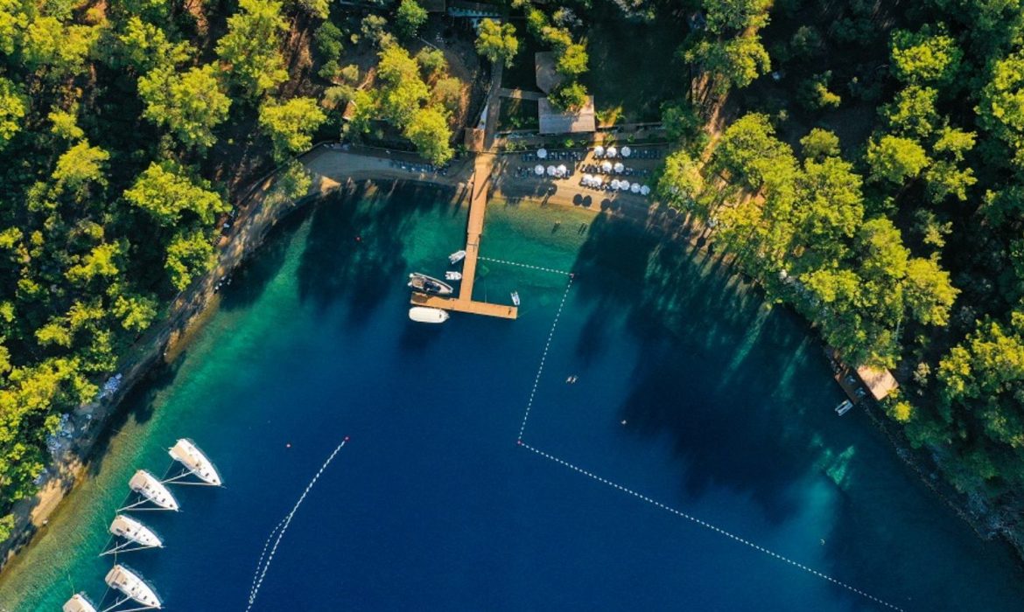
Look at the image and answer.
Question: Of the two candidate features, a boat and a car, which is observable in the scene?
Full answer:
It is a boat that can be seen here.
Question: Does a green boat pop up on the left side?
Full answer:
No, looking on the left side, there is no green boat.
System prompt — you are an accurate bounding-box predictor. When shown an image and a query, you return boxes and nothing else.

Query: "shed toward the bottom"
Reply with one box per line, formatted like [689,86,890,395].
[850,354,899,400]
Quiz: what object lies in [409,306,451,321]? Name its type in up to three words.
boat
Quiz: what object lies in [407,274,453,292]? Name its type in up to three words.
boat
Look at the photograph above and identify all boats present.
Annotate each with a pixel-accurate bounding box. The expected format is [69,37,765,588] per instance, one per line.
[448,250,465,264]
[510,290,519,304]
[444,271,462,280]
[409,306,451,321]
[93,515,168,555]
[112,457,185,516]
[59,594,98,612]
[99,566,159,612]
[407,274,453,292]
[156,429,219,487]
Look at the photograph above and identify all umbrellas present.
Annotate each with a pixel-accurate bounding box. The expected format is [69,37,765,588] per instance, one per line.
[592,176,602,186]
[556,165,566,175]
[534,164,545,175]
[614,163,624,173]
[620,180,630,190]
[546,165,556,175]
[593,146,604,156]
[611,179,620,189]
[602,161,612,171]
[620,147,631,157]
[630,183,640,193]
[582,174,592,184]
[639,185,650,195]
[607,147,617,157]
[536,148,547,158]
